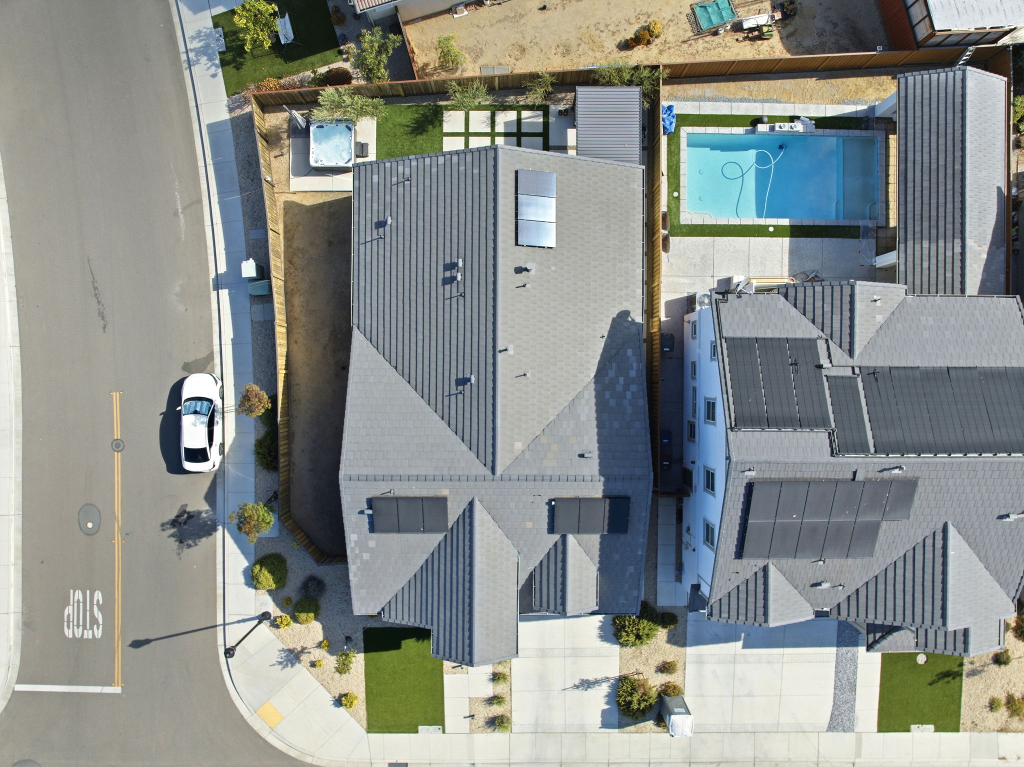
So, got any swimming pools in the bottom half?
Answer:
No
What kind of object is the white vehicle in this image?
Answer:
automobile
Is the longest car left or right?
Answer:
left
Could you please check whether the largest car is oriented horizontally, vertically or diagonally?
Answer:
vertically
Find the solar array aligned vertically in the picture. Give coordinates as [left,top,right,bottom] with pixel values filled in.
[517,169,555,249]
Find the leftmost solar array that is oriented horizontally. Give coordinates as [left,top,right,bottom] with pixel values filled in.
[371,497,449,533]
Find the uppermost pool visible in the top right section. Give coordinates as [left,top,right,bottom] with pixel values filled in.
[680,127,885,226]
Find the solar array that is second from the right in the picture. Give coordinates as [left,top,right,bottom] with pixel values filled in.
[553,498,630,533]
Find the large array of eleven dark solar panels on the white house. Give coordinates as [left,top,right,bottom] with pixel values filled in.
[742,481,919,559]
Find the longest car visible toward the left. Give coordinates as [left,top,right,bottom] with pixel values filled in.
[172,374,223,472]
